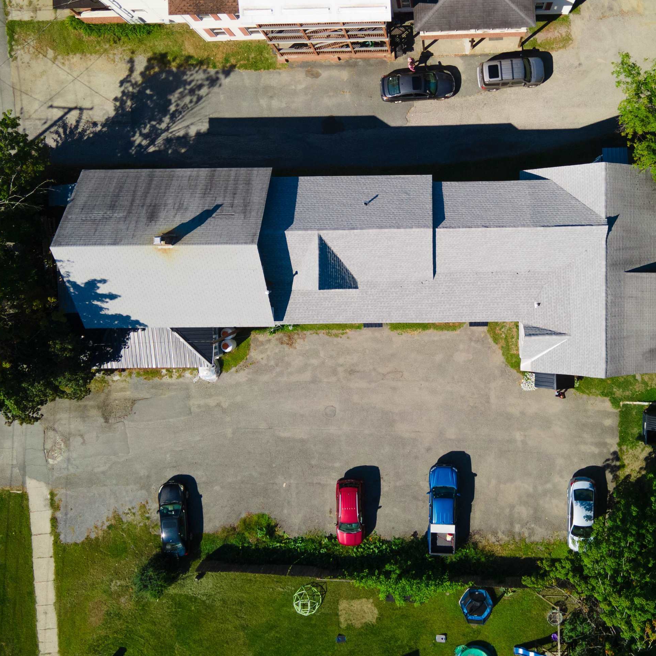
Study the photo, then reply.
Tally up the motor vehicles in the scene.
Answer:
six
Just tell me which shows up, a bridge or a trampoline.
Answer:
trampoline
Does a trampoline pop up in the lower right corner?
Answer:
Yes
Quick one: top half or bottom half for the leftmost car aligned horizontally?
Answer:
top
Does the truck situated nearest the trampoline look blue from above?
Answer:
Yes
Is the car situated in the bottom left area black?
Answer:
Yes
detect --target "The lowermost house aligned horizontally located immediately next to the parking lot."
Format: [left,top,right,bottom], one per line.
[52,162,656,379]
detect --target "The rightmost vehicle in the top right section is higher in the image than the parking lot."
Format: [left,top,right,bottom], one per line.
[475,54,545,93]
